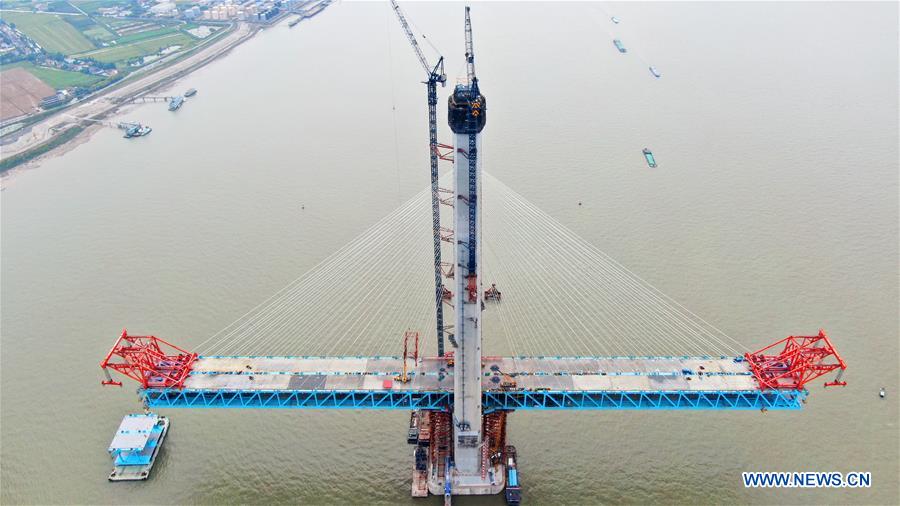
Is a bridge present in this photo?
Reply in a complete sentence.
Yes, the picture does show a bridge.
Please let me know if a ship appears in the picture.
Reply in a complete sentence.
Yes, the image includes a ship.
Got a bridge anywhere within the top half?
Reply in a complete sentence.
No, no bridge is visible within the top half.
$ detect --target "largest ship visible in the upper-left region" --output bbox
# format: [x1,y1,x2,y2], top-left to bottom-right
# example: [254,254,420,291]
[115,120,149,139]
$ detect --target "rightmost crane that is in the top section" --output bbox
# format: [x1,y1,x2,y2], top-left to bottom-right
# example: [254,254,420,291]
[459,5,480,330]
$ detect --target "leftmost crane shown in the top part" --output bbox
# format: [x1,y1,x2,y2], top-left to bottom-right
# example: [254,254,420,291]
[381,0,454,355]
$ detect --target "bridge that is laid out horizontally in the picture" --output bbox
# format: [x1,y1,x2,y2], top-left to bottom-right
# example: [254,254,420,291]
[145,184,802,410]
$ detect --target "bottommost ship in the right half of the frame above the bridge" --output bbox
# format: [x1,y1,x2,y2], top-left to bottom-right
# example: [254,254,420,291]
[642,148,659,166]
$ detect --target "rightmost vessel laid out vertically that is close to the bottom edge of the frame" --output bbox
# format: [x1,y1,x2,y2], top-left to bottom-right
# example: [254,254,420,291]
[504,444,522,504]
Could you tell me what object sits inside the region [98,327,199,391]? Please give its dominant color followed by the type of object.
red crane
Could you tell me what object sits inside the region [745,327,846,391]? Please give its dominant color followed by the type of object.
red crane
